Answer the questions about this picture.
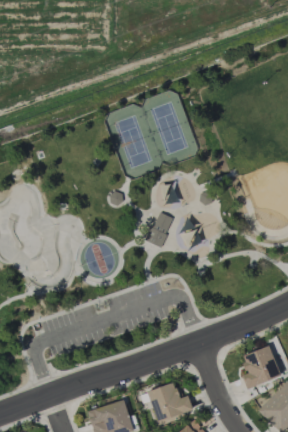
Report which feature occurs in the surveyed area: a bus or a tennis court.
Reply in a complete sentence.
There is a tennis court in the scene.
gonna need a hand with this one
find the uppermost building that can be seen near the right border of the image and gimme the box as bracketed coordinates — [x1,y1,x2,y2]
[240,346,280,389]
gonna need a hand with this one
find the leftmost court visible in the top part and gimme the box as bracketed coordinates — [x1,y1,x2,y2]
[108,104,162,178]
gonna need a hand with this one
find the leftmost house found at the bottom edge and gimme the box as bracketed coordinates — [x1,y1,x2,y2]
[88,398,134,432]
